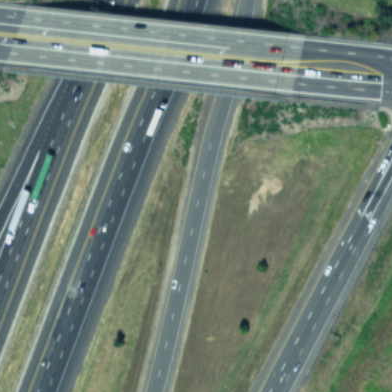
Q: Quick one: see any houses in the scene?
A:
No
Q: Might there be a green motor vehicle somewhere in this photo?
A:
Yes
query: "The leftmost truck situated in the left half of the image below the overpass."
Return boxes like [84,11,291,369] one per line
[4,190,29,244]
